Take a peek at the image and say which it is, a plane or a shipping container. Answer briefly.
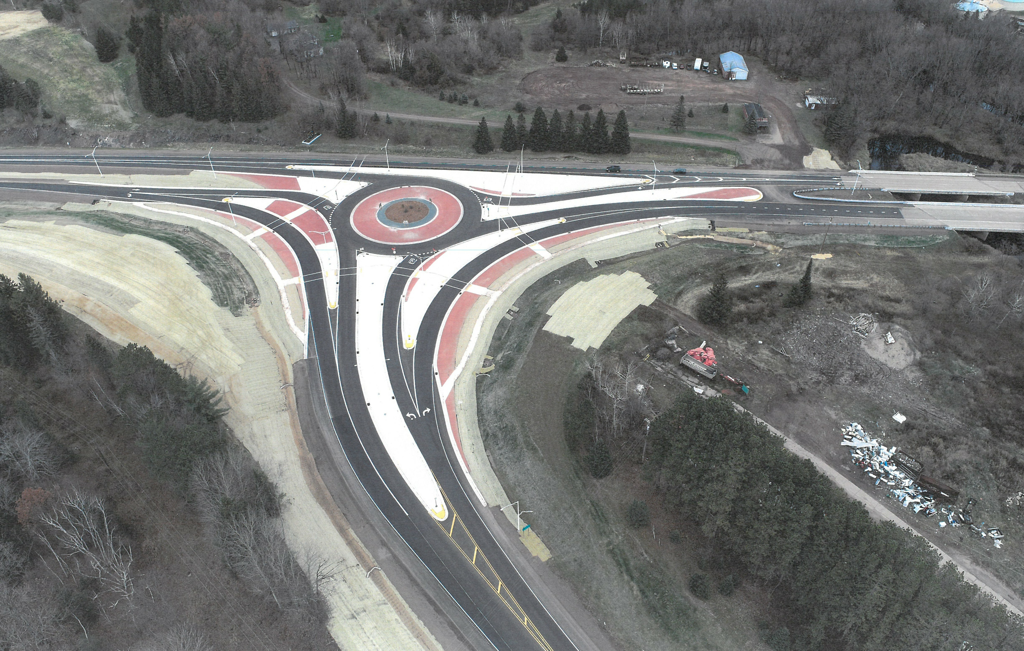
shipping container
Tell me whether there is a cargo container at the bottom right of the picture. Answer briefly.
Yes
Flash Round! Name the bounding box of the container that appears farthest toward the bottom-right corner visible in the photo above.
[915,474,959,507]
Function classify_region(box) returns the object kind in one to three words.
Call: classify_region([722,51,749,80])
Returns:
shed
